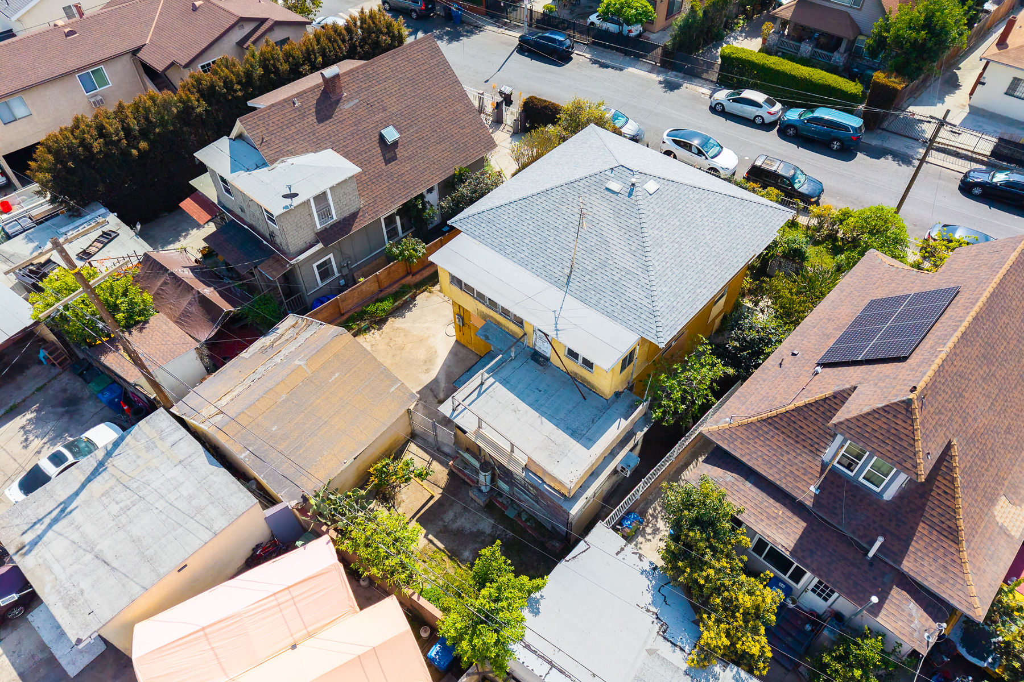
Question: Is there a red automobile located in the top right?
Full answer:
No, I see no red automobile in the top right.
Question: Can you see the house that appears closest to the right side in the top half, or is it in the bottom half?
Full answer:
It is in the top half that the house that appears closest to the right side appears.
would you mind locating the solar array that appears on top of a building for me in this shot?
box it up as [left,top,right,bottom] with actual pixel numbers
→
[814,293,949,369]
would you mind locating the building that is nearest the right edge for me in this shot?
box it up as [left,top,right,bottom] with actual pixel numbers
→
[964,11,1024,125]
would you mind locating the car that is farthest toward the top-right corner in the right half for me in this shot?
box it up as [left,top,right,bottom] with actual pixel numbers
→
[962,167,1024,207]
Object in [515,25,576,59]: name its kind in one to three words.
car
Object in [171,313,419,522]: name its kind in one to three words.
building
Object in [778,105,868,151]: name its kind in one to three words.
car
